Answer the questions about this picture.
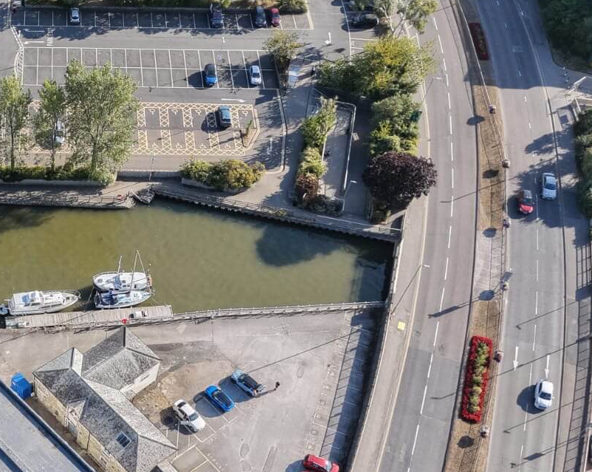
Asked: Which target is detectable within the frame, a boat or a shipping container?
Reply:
boat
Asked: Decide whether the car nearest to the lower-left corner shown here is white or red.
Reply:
white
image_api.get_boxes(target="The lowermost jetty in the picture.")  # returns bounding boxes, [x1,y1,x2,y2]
[5,299,174,329]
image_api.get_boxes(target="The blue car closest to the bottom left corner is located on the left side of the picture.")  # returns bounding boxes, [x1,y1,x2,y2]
[202,382,238,417]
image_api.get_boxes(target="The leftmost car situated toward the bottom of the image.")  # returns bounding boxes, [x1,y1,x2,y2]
[168,397,208,434]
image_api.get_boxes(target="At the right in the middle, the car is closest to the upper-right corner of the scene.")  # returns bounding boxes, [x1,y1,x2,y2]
[538,172,559,200]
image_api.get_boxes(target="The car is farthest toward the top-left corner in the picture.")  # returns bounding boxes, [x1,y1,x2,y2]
[67,7,81,25]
